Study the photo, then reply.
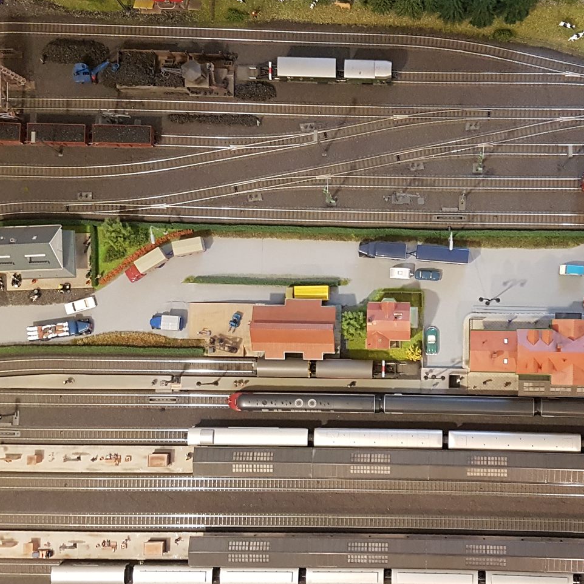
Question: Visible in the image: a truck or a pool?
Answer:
truck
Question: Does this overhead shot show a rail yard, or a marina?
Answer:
rail yard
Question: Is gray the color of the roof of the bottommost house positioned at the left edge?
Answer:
Yes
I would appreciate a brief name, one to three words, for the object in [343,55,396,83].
rail car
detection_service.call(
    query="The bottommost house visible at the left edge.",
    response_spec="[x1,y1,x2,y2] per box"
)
[0,223,82,279]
